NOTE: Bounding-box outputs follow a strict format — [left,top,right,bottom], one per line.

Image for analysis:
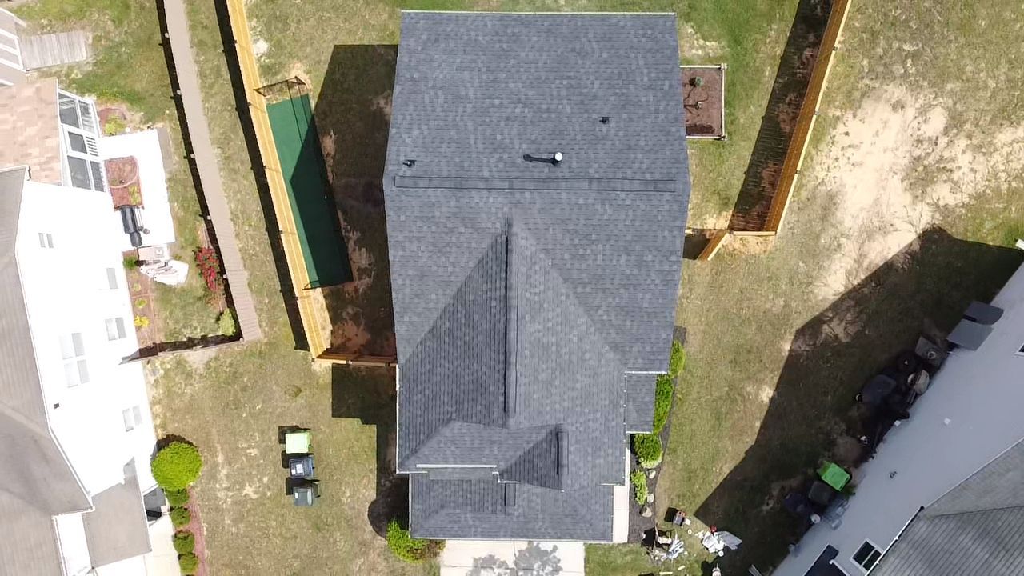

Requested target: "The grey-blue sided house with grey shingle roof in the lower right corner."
[762,265,1024,576]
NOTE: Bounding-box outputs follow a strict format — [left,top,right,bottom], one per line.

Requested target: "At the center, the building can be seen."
[382,10,694,540]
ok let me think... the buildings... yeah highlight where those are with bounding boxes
[762,265,1024,576]
[0,73,194,576]
[382,10,694,540]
